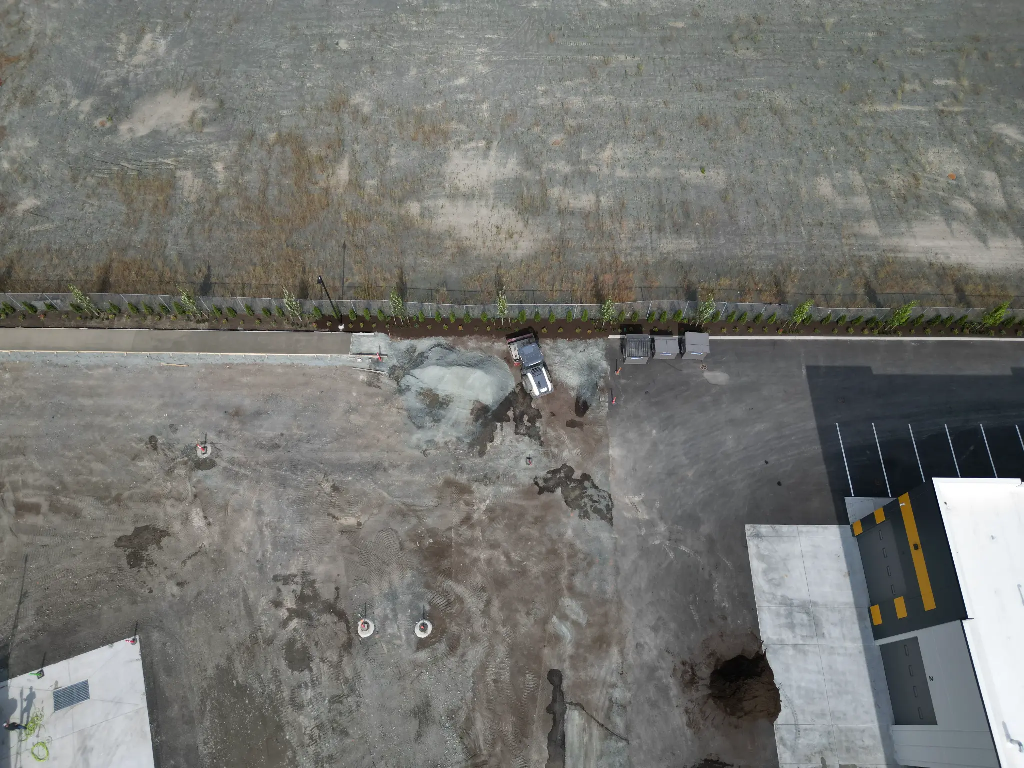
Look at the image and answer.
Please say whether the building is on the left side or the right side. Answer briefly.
right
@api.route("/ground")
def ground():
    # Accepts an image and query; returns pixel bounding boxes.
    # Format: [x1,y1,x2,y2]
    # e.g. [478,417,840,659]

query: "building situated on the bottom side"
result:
[851,477,1024,768]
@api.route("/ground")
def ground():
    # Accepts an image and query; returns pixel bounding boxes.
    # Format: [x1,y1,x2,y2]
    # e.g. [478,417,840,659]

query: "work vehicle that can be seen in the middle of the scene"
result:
[507,332,556,403]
